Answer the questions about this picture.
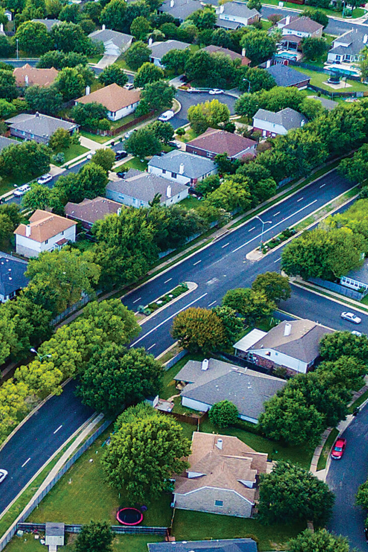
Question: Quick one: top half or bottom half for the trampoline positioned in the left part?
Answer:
bottom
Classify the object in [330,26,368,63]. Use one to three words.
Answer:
house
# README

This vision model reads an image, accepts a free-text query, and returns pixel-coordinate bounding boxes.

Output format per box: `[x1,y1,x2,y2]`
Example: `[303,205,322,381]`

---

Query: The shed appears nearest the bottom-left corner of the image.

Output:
[42,525,67,552]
